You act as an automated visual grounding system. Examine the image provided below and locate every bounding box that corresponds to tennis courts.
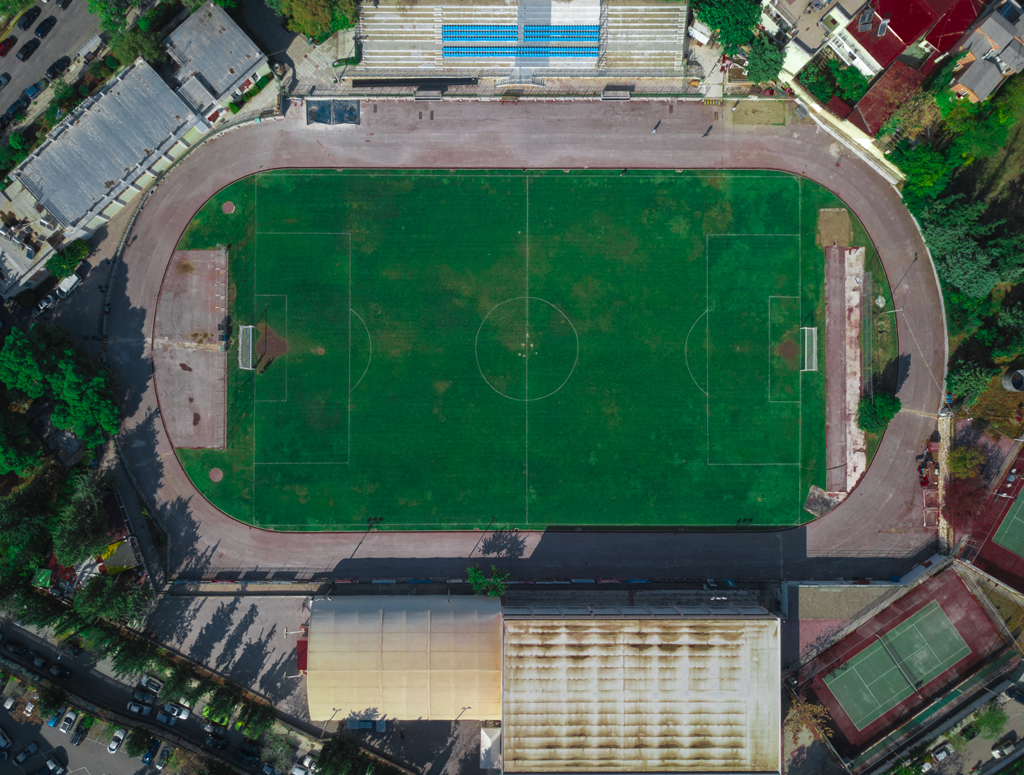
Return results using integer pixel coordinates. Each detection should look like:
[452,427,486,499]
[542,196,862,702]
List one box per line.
[796,571,1011,750]
[968,460,1024,593]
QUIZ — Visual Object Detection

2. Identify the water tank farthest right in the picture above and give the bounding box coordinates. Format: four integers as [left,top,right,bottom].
[988,370,1024,392]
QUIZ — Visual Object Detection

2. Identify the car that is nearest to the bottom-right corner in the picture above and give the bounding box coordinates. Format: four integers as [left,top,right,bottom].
[993,742,1017,761]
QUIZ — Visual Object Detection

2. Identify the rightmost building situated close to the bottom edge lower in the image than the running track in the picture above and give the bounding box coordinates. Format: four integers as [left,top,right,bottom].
[503,600,781,773]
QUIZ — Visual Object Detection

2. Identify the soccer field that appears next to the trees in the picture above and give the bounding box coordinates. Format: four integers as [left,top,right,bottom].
[152,168,898,532]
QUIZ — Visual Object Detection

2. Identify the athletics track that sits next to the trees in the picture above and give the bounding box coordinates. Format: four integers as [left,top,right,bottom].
[104,99,946,581]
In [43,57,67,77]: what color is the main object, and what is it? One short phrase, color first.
black car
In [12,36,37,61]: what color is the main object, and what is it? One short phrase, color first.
black car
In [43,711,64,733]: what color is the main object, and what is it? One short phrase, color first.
blue car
